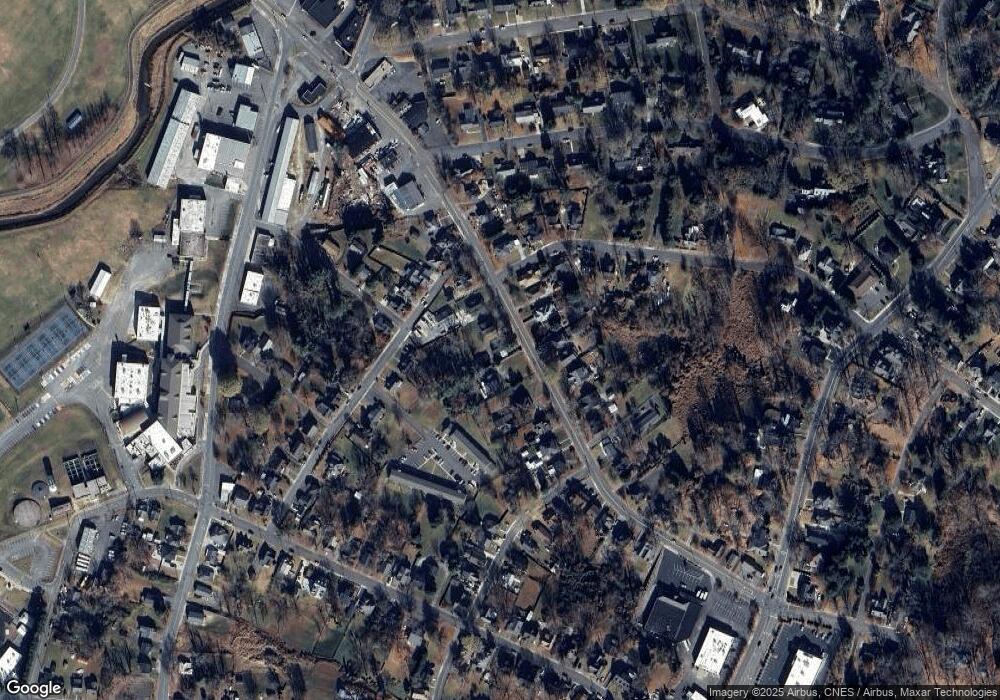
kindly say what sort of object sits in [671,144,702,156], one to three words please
house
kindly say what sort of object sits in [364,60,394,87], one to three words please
building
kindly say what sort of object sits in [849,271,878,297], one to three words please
building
